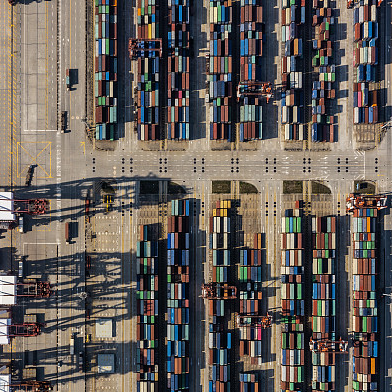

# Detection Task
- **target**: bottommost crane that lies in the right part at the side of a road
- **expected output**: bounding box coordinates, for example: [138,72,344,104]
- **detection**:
[307,330,347,351]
